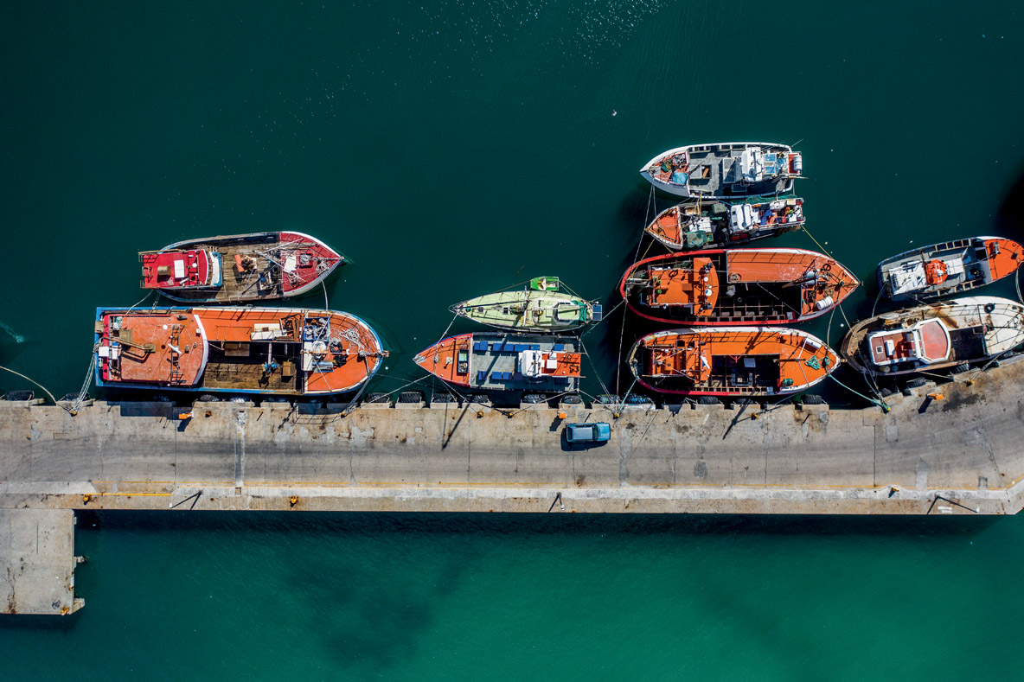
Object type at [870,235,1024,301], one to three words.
boat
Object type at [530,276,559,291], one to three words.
boat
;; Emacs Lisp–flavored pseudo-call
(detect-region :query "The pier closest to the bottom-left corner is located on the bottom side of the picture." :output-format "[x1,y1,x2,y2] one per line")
[0,509,88,614]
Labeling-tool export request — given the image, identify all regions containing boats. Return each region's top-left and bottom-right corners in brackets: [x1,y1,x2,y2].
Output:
[870,235,1024,301]
[448,279,602,333]
[626,325,847,397]
[95,306,394,396]
[643,192,810,250]
[530,276,559,291]
[138,230,350,303]
[413,331,586,394]
[617,246,865,327]
[829,295,1024,376]
[636,139,809,200]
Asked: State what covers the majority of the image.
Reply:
water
